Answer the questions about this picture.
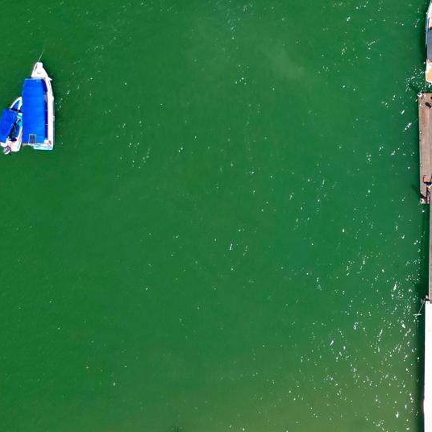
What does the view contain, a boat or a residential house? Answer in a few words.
boat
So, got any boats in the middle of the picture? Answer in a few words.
No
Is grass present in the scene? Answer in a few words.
No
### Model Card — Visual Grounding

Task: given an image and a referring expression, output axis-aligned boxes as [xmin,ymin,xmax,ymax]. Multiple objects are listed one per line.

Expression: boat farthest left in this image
[0,96,23,155]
